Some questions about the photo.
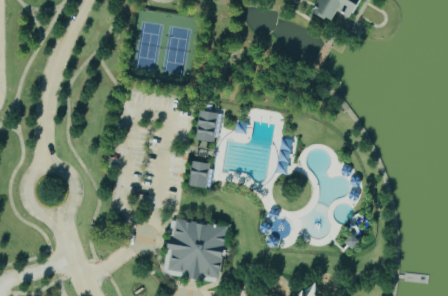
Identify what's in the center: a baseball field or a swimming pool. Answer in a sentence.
Looking in the center, you will find a swimming pool.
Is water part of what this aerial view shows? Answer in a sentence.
Yes, water shows up in the scene.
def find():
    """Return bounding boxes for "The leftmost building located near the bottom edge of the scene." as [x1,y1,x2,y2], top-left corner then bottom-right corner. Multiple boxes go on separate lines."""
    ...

[164,220,229,282]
